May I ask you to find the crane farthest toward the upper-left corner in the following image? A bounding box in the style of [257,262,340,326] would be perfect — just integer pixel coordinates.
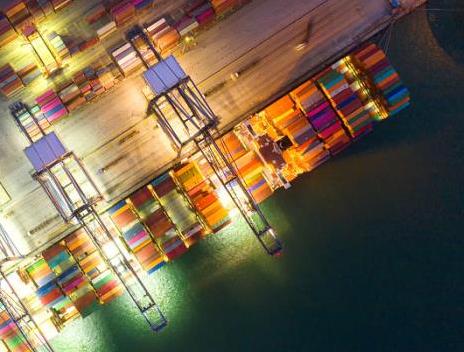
[21,25,65,80]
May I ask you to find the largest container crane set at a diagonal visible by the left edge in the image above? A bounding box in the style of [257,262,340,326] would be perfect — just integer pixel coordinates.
[10,104,167,332]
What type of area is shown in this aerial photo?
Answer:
port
